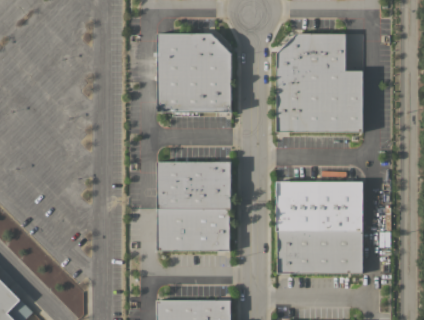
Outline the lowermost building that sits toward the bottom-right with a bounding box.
[278,232,364,274]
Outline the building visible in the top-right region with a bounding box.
[278,34,364,133]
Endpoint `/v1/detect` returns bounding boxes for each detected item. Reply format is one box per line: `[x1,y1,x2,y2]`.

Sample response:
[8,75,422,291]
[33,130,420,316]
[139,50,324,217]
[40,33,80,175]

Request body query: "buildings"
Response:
[278,34,364,133]
[276,182,364,231]
[158,210,230,251]
[0,279,33,320]
[158,162,232,209]
[158,34,232,112]
[157,300,232,320]
[278,232,364,274]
